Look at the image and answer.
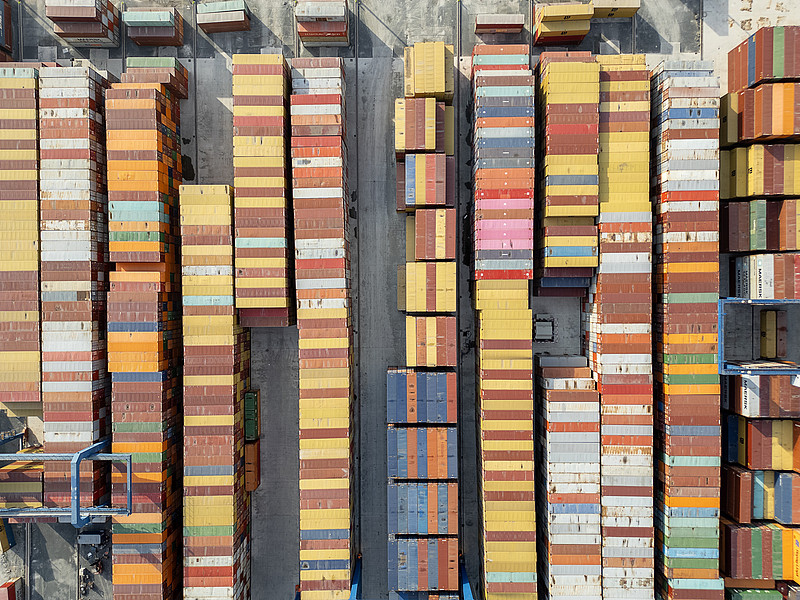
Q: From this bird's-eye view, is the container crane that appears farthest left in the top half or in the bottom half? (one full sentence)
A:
The container crane that appears farthest left is in the bottom half of the image.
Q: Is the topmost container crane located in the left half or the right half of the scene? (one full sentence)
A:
The topmost container crane sits on the right side.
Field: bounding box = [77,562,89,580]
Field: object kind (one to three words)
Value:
vehicle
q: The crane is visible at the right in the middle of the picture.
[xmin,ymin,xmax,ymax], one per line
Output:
[714,298,800,373]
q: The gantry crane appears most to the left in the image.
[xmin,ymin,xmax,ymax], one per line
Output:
[0,420,137,529]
